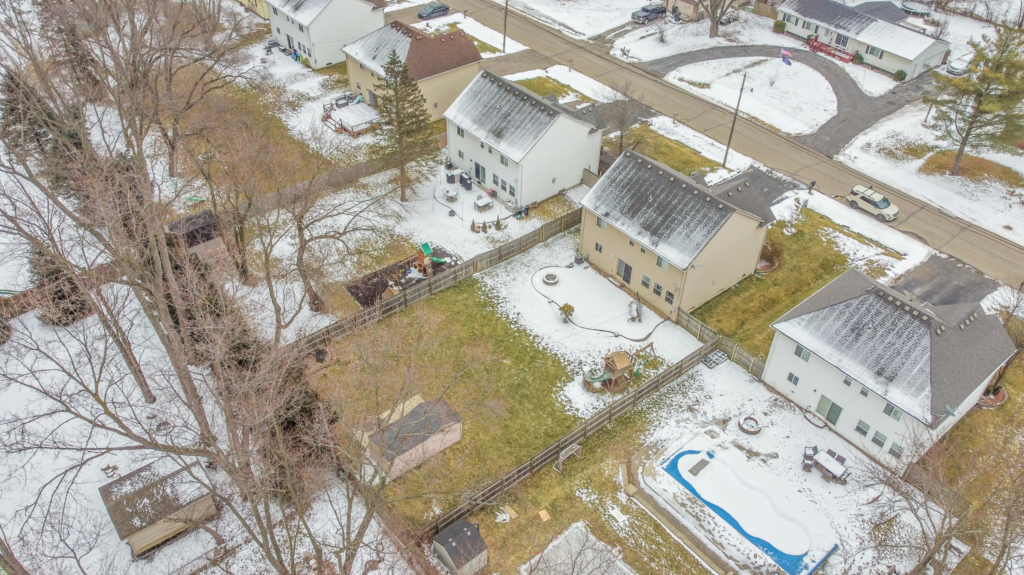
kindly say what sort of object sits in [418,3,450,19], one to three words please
car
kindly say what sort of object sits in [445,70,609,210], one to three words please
house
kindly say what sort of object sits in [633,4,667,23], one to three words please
vehicle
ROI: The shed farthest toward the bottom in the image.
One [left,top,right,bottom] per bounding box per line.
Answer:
[433,519,487,575]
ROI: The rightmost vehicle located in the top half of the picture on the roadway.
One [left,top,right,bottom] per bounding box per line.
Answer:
[847,186,902,222]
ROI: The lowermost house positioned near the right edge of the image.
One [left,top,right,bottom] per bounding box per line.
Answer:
[755,269,1018,479]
